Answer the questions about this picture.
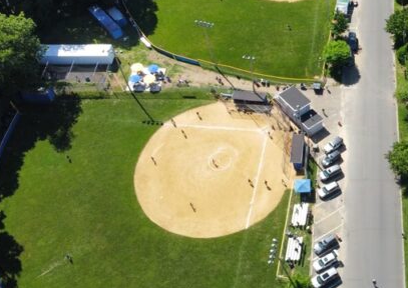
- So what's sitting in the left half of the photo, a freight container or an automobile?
freight container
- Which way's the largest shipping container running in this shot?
at an angle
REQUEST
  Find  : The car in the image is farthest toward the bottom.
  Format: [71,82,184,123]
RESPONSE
[311,268,338,288]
